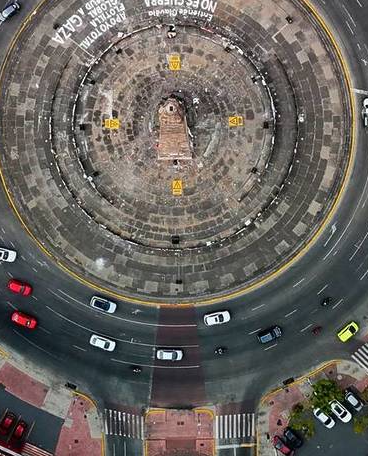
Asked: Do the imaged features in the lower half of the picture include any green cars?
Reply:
Yes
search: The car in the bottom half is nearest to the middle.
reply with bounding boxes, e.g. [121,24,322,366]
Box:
[203,311,231,326]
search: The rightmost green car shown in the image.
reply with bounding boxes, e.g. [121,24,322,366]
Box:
[337,323,360,343]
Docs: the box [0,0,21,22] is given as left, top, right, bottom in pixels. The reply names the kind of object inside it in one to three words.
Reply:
car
